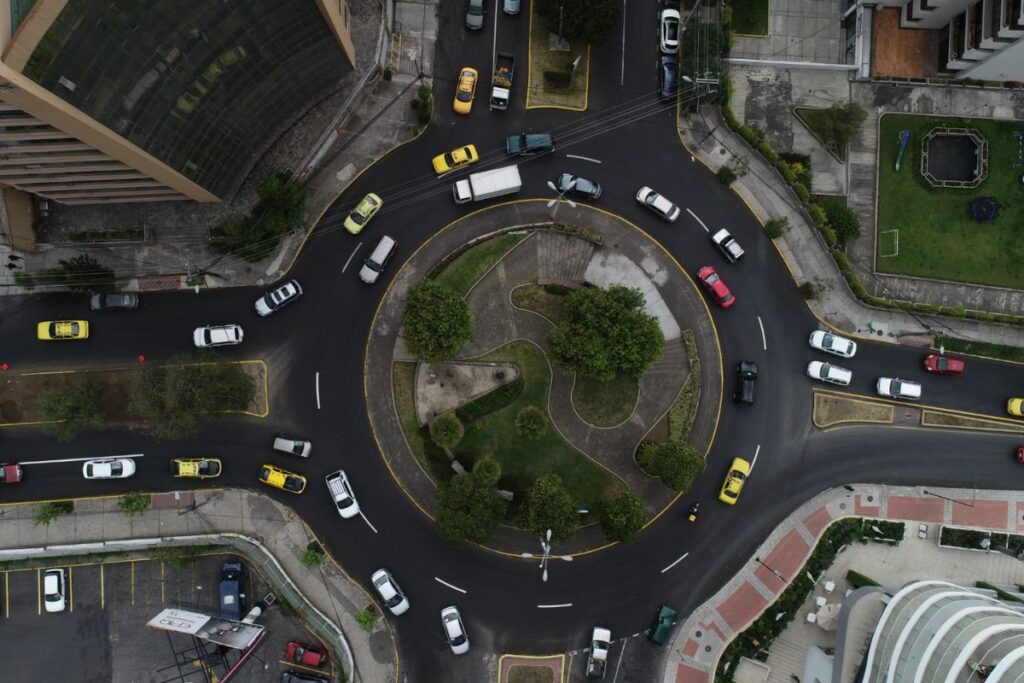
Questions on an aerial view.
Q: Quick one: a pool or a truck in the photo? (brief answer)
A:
truck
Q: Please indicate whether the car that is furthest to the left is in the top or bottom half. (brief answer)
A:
bottom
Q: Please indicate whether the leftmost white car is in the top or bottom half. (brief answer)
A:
bottom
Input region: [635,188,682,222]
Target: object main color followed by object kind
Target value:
white car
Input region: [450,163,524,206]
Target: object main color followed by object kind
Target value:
white truck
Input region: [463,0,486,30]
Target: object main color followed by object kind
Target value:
gray car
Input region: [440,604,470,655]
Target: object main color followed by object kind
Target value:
white car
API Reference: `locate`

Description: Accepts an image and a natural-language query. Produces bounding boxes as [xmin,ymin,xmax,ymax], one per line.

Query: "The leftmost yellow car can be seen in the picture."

[40,318,90,341]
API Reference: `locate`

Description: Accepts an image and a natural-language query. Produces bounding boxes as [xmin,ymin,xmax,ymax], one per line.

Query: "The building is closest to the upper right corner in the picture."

[903,0,1024,83]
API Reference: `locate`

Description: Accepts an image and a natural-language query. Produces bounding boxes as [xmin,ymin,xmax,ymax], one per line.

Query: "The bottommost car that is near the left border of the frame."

[42,568,69,611]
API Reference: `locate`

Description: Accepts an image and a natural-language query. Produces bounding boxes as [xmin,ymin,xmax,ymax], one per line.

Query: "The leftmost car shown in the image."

[0,462,23,486]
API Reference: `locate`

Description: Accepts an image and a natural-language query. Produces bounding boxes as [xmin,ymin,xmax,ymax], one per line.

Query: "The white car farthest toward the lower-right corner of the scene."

[876,375,923,399]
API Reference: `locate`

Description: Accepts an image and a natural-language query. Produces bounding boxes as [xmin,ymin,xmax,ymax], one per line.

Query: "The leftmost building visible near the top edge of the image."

[0,0,357,203]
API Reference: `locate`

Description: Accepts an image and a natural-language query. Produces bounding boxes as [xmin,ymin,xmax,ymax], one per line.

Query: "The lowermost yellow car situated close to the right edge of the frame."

[1004,396,1024,418]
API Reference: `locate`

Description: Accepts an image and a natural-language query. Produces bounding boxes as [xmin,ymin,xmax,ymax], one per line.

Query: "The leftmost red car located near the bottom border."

[285,639,331,670]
